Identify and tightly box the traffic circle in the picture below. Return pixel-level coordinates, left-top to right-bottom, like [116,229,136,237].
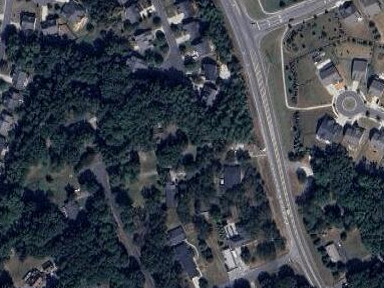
[333,89,363,119]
